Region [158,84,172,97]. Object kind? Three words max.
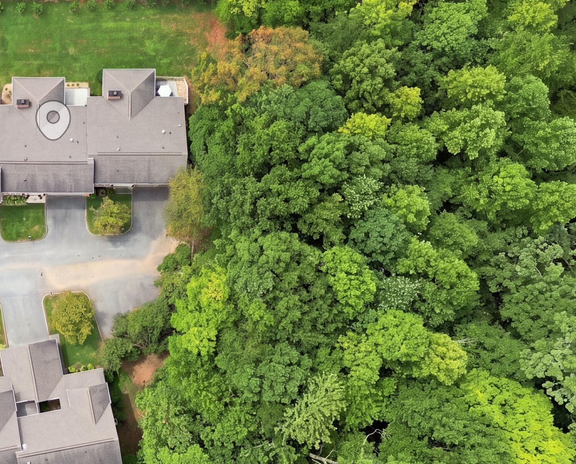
umbrella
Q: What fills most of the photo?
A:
trees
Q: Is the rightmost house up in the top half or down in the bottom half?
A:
top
